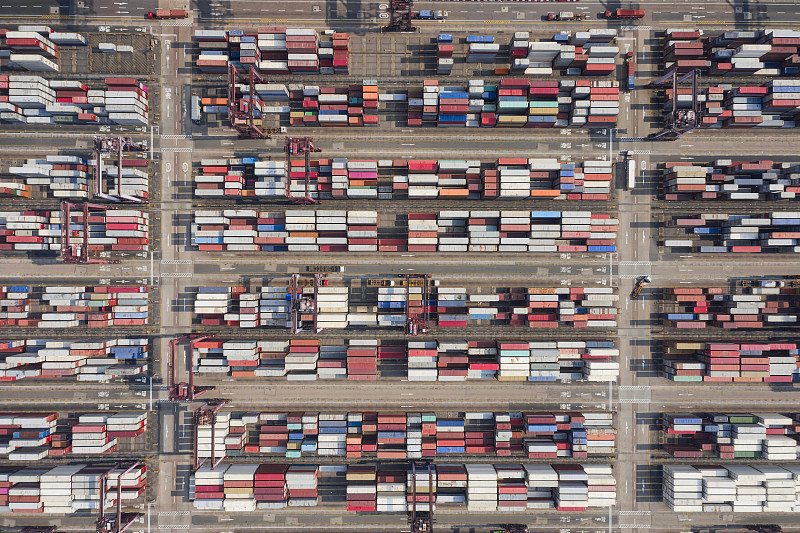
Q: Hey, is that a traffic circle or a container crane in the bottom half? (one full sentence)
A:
Visible in the bottom half is a container crane.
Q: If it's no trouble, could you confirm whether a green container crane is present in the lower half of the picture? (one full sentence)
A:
No, no green container crane can be made out in the lower half of the picture.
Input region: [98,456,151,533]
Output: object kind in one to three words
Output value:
container crane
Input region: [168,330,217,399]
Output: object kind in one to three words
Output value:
container crane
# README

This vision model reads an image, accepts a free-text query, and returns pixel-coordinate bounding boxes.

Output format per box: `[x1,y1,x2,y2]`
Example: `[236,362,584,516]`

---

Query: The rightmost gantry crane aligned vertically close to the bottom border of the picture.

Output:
[405,457,434,533]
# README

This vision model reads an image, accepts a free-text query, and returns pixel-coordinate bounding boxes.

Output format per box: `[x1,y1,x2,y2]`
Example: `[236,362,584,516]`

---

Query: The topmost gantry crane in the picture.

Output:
[386,0,416,28]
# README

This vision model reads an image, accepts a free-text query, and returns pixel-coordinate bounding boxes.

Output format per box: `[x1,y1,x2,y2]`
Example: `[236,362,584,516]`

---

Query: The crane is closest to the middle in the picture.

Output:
[401,272,430,336]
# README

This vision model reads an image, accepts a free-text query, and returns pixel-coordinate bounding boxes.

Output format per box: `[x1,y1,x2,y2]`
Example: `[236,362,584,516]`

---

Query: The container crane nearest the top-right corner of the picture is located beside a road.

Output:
[642,60,698,138]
